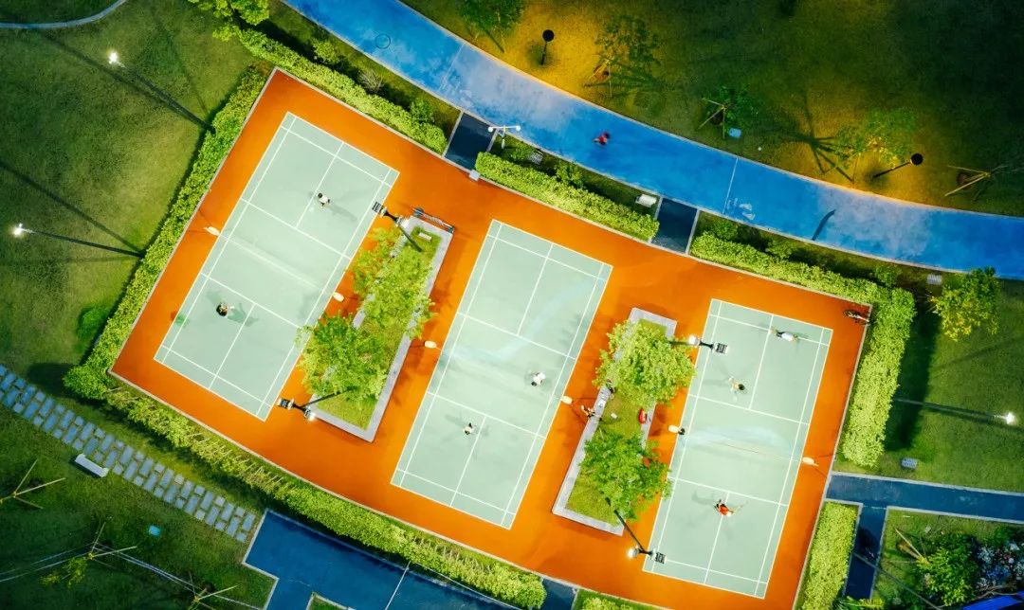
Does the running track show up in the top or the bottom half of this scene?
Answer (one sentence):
Seen from above, the running track lies in the top half of the view.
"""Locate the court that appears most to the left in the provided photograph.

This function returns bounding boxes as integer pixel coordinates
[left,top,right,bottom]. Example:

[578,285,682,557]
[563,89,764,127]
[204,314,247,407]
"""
[155,113,398,419]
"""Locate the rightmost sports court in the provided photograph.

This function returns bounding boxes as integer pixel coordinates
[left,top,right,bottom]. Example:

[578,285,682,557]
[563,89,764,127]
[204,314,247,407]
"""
[642,299,834,601]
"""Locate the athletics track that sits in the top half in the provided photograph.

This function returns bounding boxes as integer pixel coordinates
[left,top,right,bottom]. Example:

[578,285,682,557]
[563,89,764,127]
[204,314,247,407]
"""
[282,0,1024,282]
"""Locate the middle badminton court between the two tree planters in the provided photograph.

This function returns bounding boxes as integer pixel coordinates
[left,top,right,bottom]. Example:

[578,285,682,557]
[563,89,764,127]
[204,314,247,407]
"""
[392,221,611,528]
